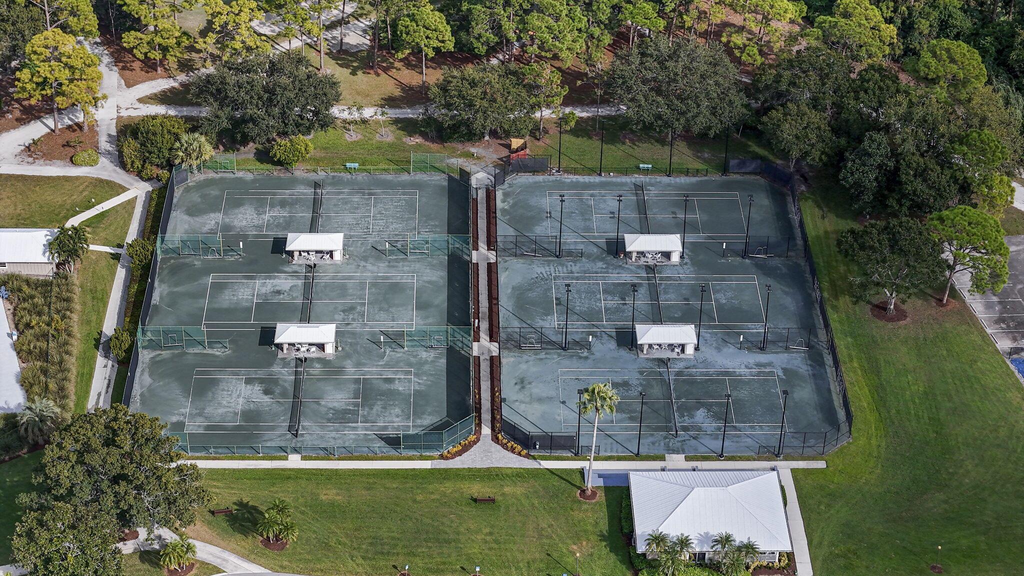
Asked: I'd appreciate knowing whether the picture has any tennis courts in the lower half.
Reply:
Yes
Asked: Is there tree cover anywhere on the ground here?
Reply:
Yes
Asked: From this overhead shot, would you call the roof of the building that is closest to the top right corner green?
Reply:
No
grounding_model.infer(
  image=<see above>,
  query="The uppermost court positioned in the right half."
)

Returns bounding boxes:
[495,176,806,259]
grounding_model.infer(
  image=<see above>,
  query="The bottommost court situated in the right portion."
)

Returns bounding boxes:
[499,350,850,455]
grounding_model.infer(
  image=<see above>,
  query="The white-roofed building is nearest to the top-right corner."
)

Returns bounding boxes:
[623,233,682,265]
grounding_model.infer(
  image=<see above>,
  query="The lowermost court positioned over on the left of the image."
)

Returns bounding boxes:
[123,350,473,454]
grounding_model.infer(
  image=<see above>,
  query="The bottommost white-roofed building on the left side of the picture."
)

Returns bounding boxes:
[274,323,337,357]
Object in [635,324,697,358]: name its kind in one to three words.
building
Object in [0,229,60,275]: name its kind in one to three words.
building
